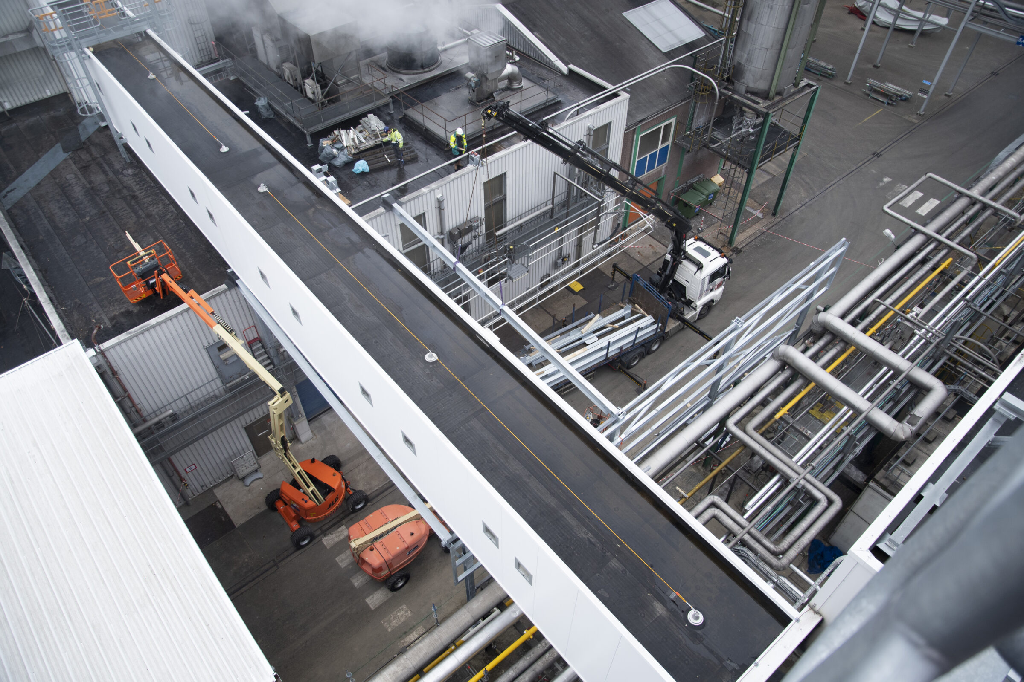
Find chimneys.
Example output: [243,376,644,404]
[375,2,445,77]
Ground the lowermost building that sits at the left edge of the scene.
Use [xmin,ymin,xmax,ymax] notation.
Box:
[0,338,290,682]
